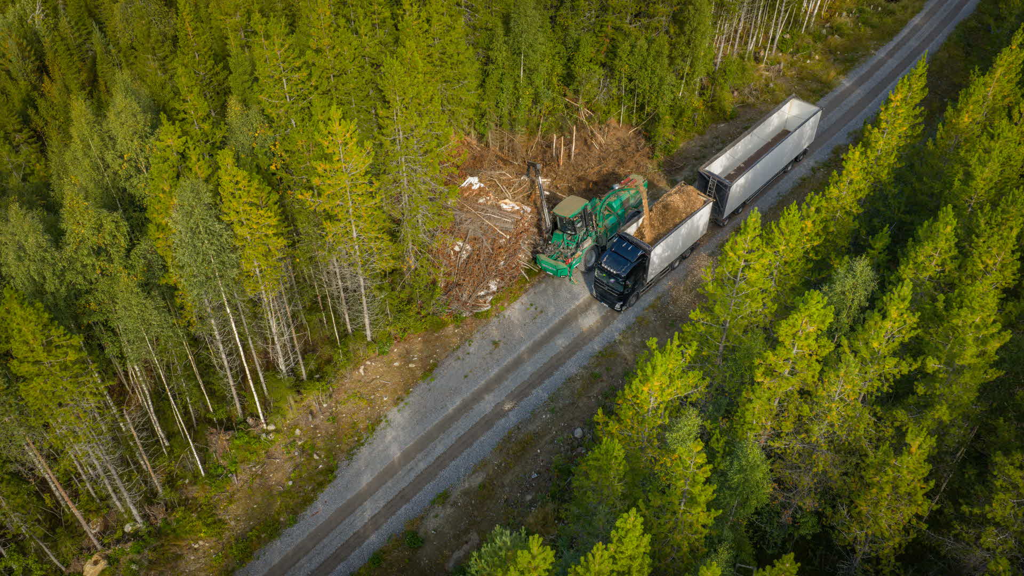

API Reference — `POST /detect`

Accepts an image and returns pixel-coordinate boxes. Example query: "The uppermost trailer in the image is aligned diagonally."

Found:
[695,96,823,226]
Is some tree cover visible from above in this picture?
Yes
